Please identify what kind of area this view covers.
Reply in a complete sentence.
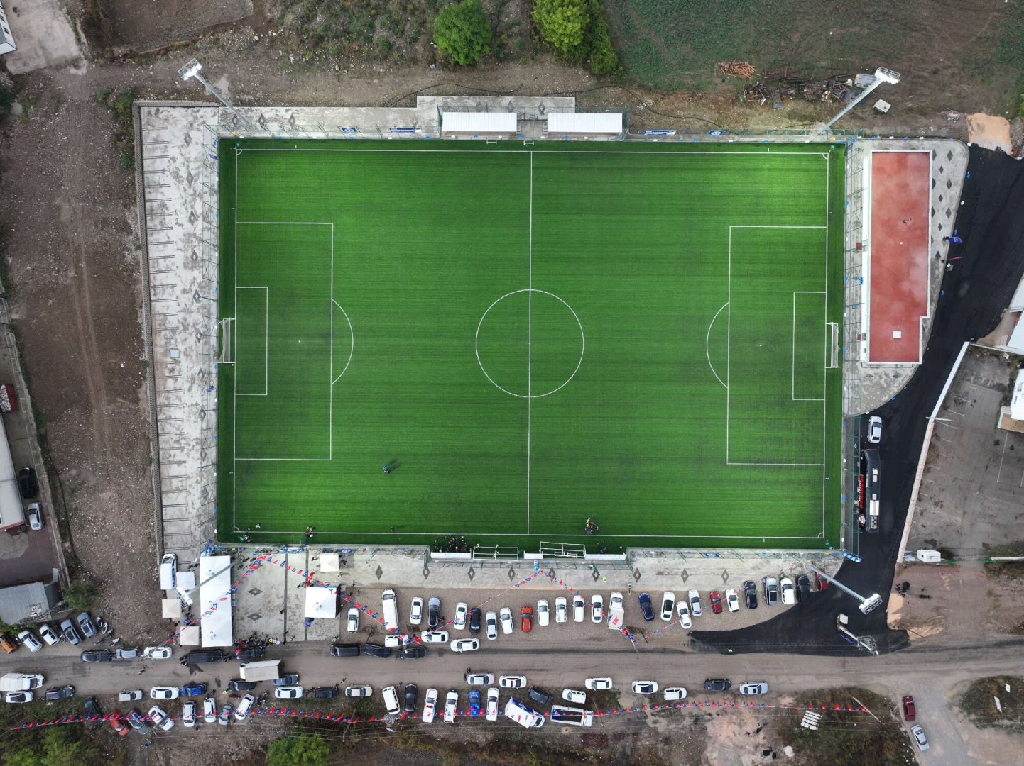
This image shows a sports ground.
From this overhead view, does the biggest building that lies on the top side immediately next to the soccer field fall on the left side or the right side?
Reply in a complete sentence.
You can find the biggest building that lies on the top side immediately next to the soccer field on the right side of the picture.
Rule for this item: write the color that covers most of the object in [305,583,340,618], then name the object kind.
white tent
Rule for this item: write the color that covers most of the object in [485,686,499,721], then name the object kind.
white vehicle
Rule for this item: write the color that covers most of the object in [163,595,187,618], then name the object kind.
white tent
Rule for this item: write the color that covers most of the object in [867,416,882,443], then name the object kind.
white car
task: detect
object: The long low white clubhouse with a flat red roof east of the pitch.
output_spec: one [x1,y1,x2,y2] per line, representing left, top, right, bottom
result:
[857,150,932,365]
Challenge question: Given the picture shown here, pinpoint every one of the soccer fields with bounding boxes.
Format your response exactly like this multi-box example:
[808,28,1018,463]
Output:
[215,138,847,561]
